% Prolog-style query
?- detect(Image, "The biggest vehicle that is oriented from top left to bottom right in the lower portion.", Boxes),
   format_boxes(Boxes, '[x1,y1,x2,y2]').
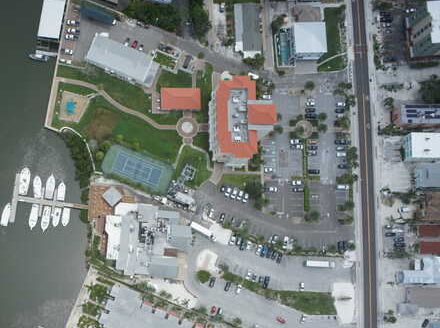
[188,220,211,236]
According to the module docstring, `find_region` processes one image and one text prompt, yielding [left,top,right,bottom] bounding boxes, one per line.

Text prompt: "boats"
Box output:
[32,54,48,61]
[53,206,62,226]
[47,171,55,199]
[62,206,70,226]
[58,181,65,201]
[1,203,12,228]
[41,205,50,232]
[19,168,29,196]
[28,203,39,230]
[33,175,42,198]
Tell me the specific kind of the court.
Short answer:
tennis court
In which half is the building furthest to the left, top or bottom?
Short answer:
top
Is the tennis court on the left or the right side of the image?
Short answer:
left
